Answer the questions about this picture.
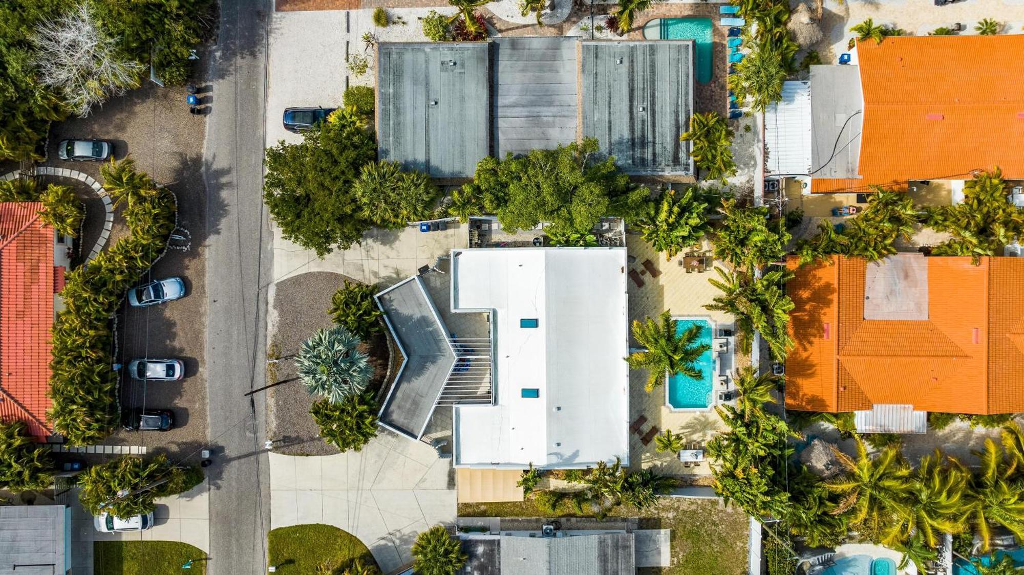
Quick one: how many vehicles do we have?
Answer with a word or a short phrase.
six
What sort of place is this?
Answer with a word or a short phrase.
residential area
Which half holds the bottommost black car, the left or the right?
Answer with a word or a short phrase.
left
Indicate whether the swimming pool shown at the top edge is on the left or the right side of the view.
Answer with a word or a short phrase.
right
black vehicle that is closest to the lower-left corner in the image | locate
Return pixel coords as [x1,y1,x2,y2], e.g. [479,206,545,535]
[123,408,178,434]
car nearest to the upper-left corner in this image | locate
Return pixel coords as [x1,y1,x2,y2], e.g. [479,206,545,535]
[59,136,115,162]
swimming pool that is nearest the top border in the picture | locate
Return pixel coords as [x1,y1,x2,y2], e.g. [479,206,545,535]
[643,16,715,86]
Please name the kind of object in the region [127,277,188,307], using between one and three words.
car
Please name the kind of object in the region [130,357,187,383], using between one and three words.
car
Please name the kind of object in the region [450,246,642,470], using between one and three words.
house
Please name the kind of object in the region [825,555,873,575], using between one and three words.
swimming pool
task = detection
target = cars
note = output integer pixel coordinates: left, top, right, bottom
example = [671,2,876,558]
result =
[130,357,187,383]
[97,509,156,538]
[127,277,188,307]
[282,104,338,132]
[59,136,115,162]
[123,408,178,434]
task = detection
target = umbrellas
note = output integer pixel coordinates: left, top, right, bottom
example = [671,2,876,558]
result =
[779,4,823,48]
[798,435,839,475]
